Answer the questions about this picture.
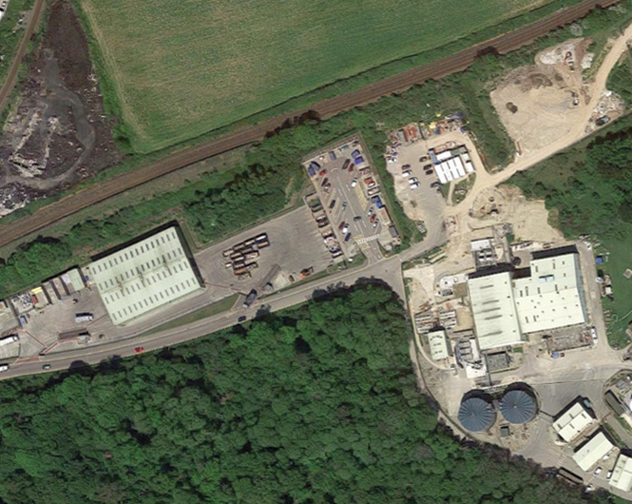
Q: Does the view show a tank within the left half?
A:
No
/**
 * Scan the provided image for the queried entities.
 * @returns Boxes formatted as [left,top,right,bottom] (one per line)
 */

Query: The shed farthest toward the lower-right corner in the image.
[609,454,632,492]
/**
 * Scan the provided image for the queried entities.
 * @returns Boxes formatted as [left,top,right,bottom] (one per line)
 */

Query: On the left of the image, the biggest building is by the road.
[87,226,203,327]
